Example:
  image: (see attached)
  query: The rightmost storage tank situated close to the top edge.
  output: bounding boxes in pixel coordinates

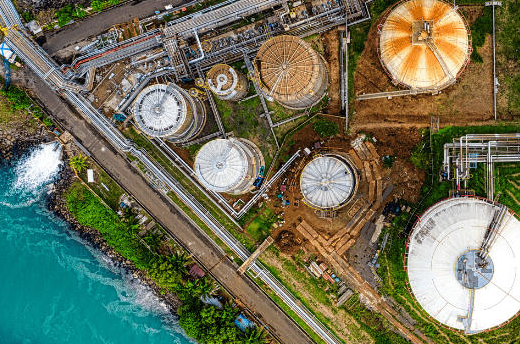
[358,0,473,100]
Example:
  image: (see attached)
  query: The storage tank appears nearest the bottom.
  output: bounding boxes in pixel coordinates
[403,188,520,336]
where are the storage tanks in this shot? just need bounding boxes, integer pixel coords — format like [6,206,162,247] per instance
[249,34,330,111]
[358,0,473,100]
[300,151,362,216]
[205,62,252,103]
[128,81,207,143]
[403,188,520,336]
[191,136,264,195]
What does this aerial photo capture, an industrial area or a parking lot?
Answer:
industrial area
